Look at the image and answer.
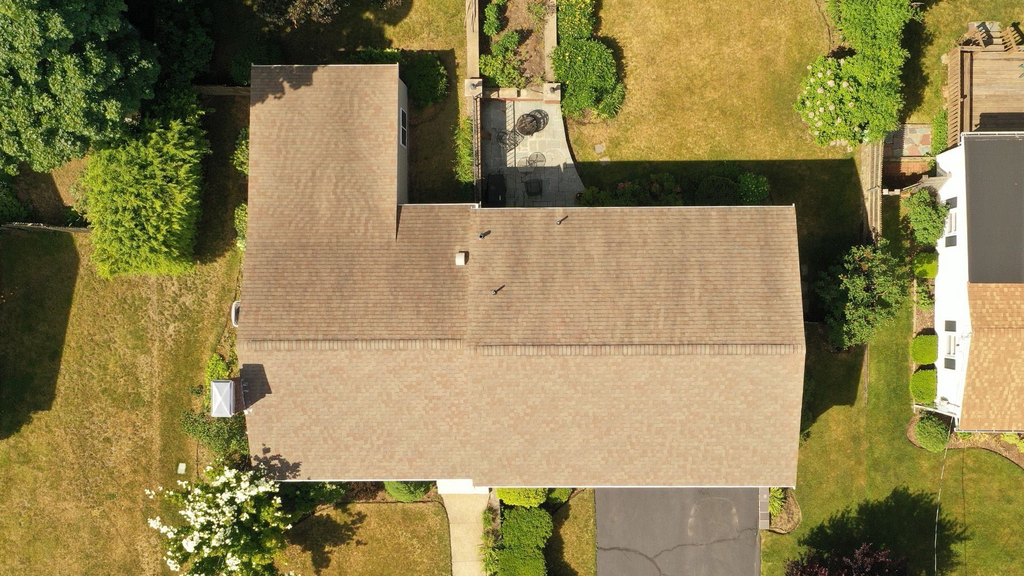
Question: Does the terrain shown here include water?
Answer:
No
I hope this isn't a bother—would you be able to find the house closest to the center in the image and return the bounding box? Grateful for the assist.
[211,65,805,494]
